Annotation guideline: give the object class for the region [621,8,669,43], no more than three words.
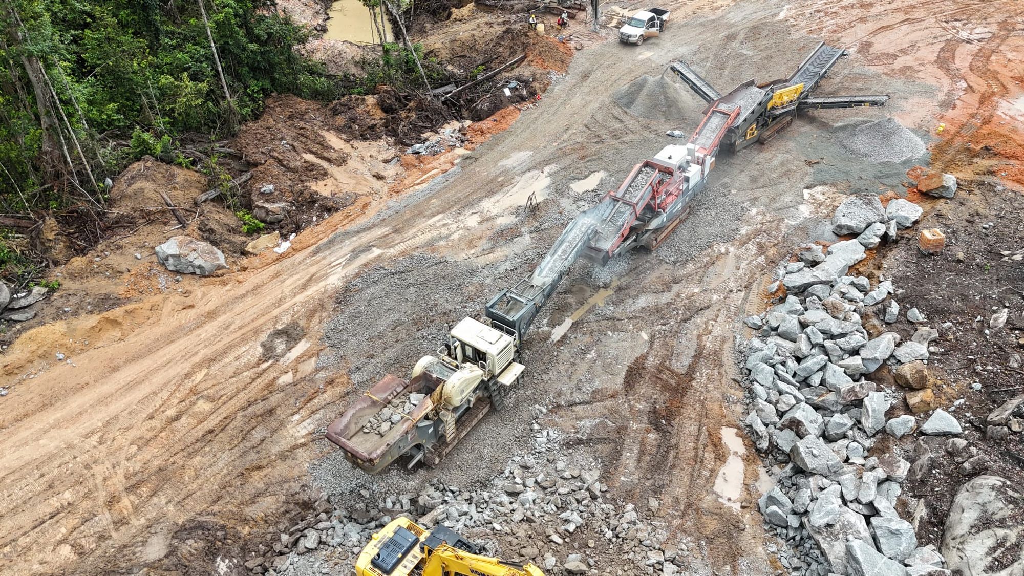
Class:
truck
